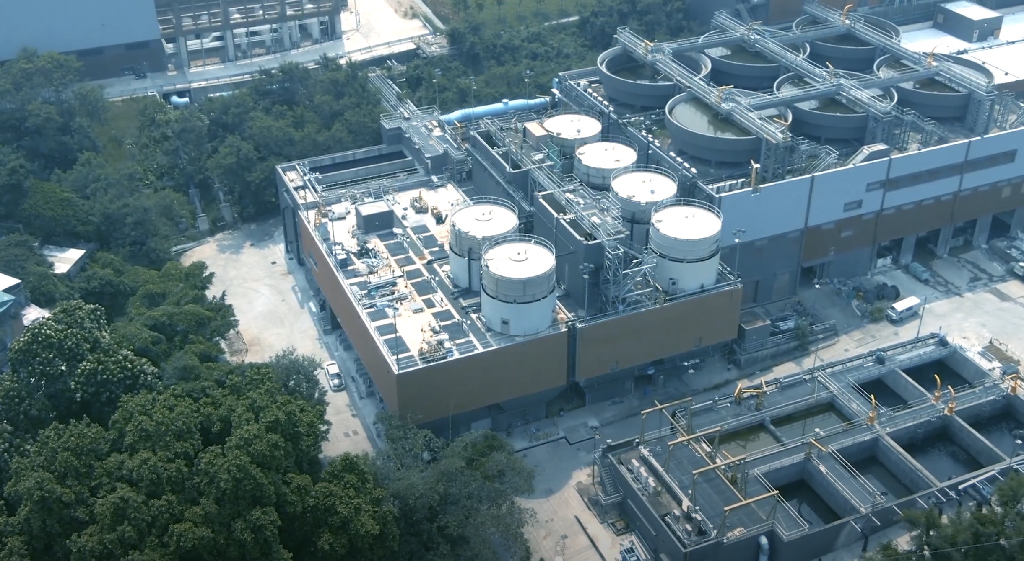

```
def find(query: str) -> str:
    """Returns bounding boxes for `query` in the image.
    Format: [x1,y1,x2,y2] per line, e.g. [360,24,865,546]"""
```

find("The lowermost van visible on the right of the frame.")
[886,294,935,325]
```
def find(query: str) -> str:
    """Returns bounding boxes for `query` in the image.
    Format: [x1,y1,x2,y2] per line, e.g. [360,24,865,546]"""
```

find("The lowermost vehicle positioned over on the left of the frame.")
[321,357,348,387]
